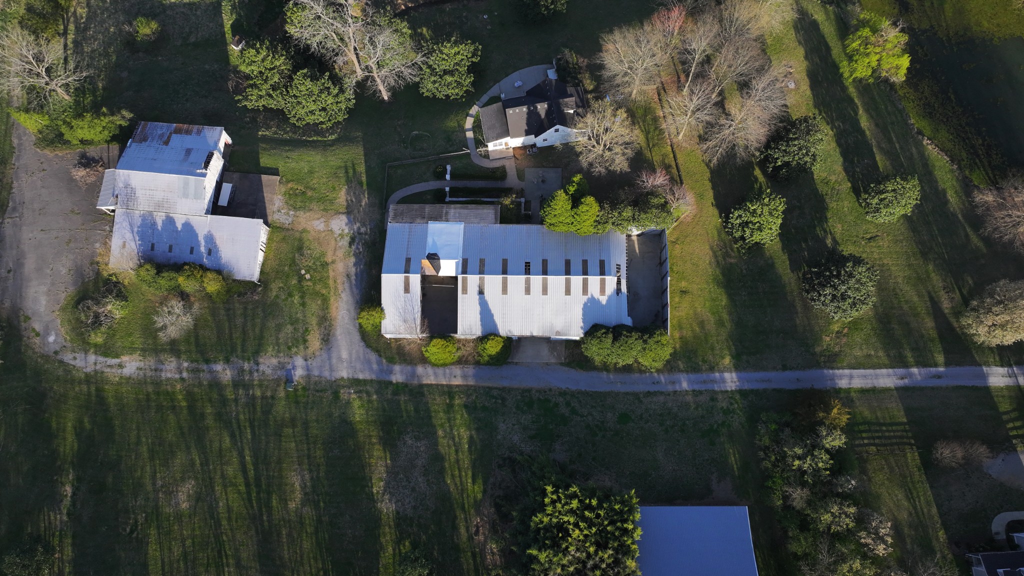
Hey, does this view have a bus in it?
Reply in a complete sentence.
No, I can see no bus in this picture.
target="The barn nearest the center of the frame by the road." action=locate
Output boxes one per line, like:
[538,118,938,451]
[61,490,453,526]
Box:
[381,204,635,343]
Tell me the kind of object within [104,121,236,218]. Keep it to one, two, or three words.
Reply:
barn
